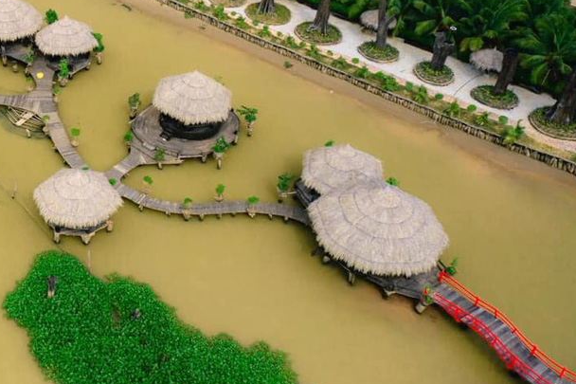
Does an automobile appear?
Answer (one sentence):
No, the scene contains no automobile.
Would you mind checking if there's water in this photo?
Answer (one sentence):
Yes, water shows up in the scene.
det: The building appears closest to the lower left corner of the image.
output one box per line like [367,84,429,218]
[34,167,123,253]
